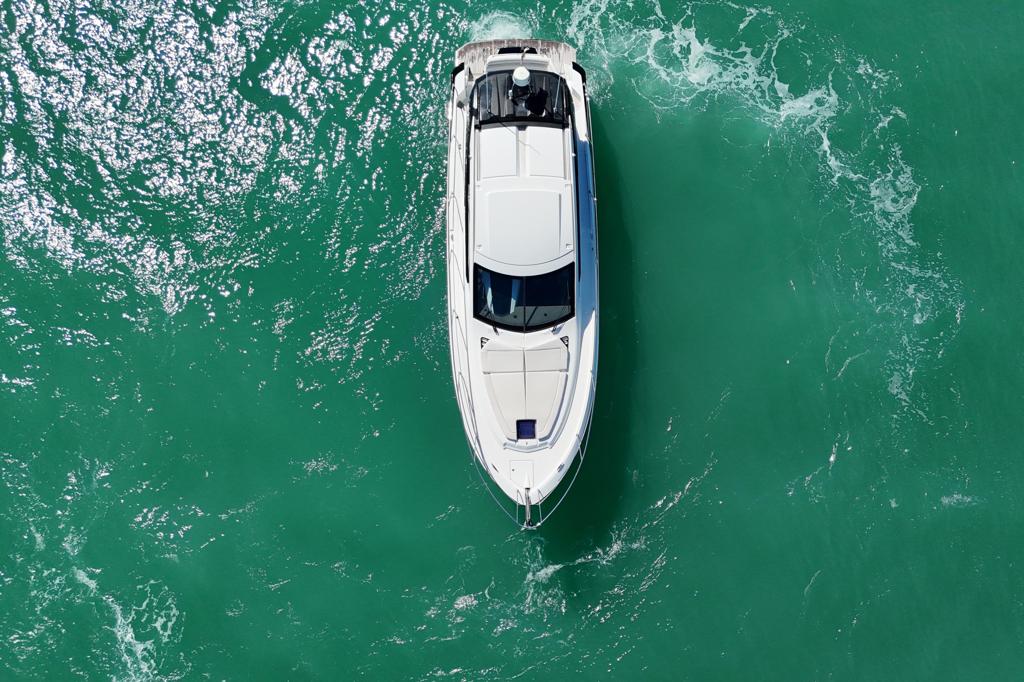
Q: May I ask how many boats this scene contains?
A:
1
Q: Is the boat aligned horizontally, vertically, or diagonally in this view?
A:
vertically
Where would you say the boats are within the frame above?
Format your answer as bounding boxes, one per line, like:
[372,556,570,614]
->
[446,39,600,529]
